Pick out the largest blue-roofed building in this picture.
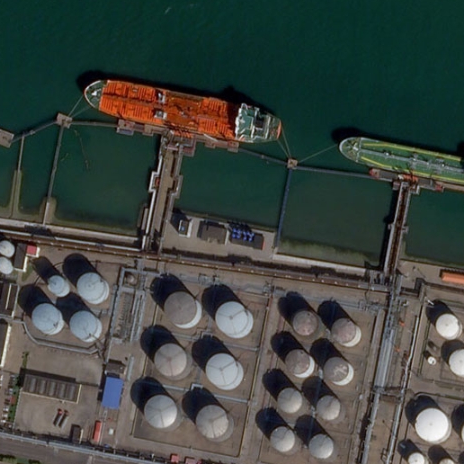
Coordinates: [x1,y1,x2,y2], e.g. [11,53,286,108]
[102,376,125,410]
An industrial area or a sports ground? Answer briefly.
industrial area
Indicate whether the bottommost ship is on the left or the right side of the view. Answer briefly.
right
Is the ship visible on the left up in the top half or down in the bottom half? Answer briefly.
top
